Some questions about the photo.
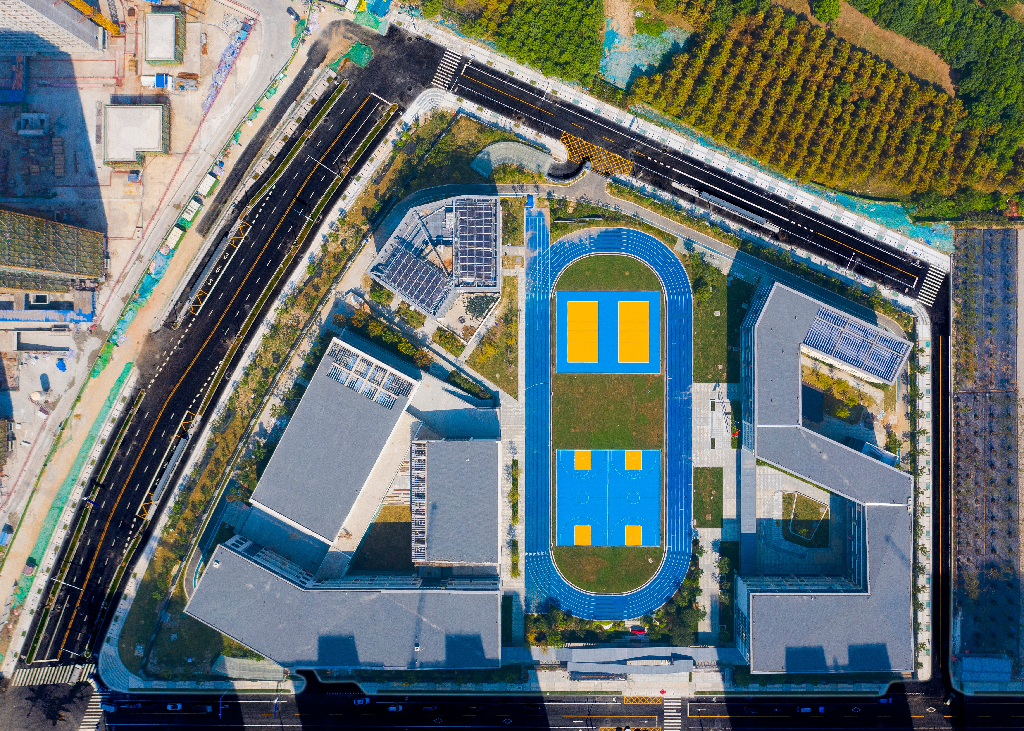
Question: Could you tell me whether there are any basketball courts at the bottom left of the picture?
No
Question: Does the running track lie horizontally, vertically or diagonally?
vertically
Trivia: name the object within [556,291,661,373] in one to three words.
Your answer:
sports court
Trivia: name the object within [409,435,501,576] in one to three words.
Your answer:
building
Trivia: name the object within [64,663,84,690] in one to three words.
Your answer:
vehicle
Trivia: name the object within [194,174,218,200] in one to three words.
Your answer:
building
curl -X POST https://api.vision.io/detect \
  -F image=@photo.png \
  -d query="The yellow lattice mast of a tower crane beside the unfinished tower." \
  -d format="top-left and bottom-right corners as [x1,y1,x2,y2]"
[61,0,123,40]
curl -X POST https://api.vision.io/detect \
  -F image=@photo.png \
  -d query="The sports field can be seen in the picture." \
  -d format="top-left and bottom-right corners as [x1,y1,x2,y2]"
[552,255,665,593]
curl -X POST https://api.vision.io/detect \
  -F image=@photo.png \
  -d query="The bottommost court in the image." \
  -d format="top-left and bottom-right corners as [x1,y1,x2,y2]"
[556,449,661,546]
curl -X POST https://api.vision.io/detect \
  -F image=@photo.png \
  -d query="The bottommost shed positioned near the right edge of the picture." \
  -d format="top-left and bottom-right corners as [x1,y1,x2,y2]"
[956,652,1013,682]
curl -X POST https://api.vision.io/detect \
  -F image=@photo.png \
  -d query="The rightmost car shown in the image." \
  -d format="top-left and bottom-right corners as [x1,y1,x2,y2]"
[943,692,957,707]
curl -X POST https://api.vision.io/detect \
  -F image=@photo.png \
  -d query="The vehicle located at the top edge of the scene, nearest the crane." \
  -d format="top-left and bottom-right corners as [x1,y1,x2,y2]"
[286,4,300,22]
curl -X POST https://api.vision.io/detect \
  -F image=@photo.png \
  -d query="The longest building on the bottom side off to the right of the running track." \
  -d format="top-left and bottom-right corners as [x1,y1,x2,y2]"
[734,282,915,674]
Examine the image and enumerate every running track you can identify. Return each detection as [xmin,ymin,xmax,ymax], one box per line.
[524,207,693,621]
